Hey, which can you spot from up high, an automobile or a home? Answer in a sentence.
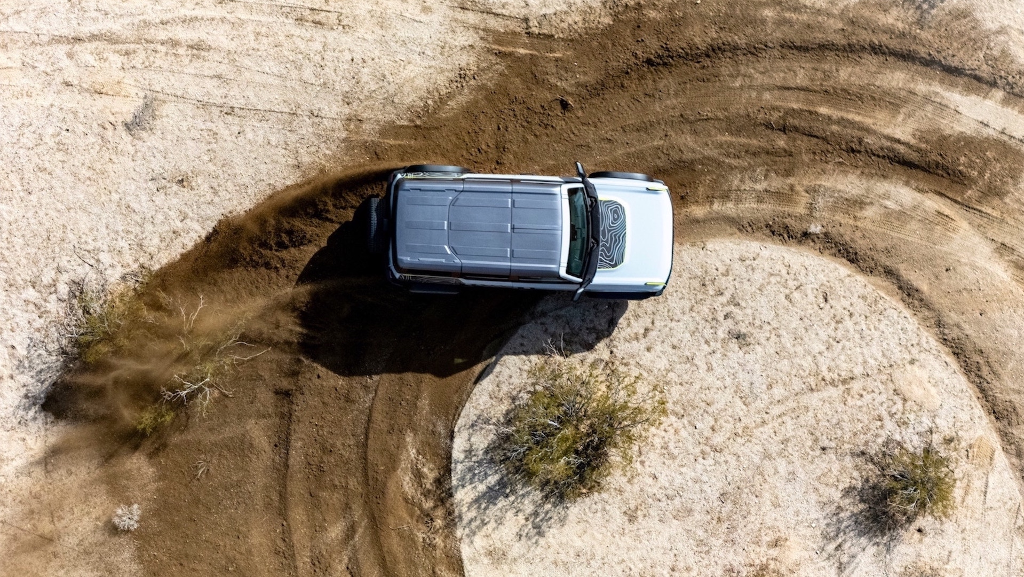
Looking from above, you can make out an automobile.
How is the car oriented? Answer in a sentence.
The car has been laid out horizontally relative to the frame.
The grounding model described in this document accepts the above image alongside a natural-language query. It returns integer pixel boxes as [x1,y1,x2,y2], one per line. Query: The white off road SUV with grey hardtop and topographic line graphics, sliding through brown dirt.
[369,161,674,302]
